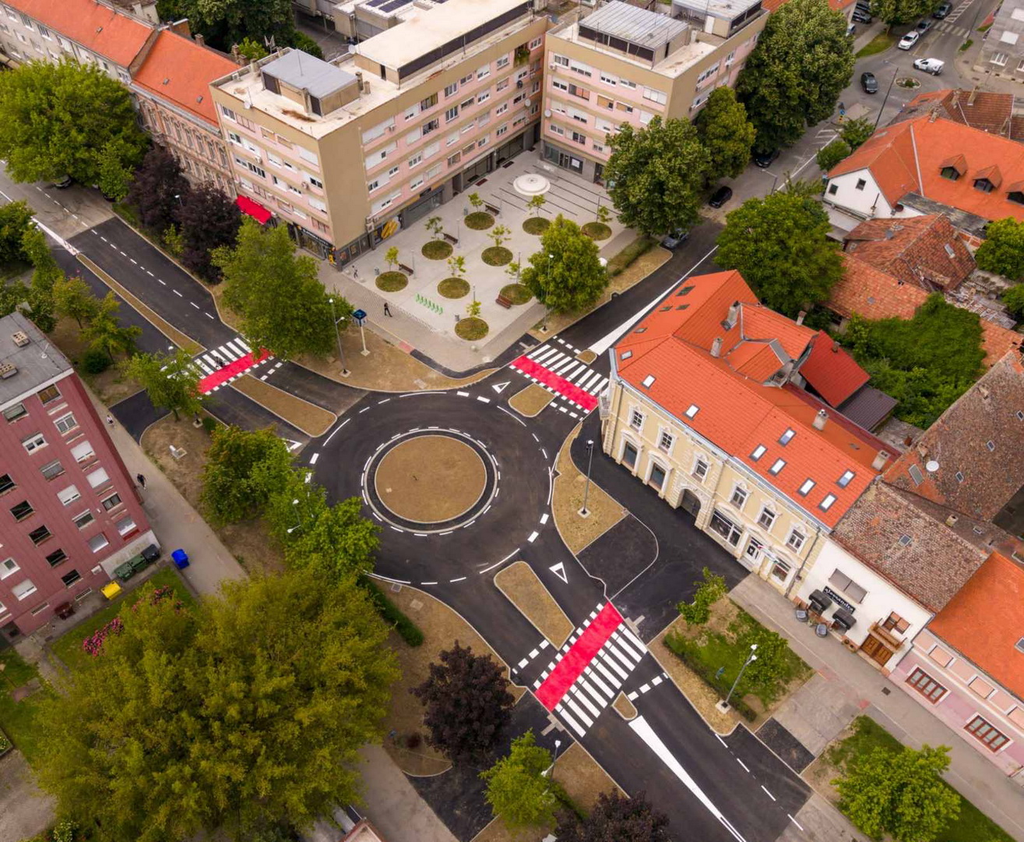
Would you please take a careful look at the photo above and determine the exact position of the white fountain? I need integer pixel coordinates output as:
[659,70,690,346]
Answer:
[513,173,551,196]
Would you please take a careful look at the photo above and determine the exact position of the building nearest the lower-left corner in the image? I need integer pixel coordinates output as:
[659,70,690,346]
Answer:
[0,295,162,666]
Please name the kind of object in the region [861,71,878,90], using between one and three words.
car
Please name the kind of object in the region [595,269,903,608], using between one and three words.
house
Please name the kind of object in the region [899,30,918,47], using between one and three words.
car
